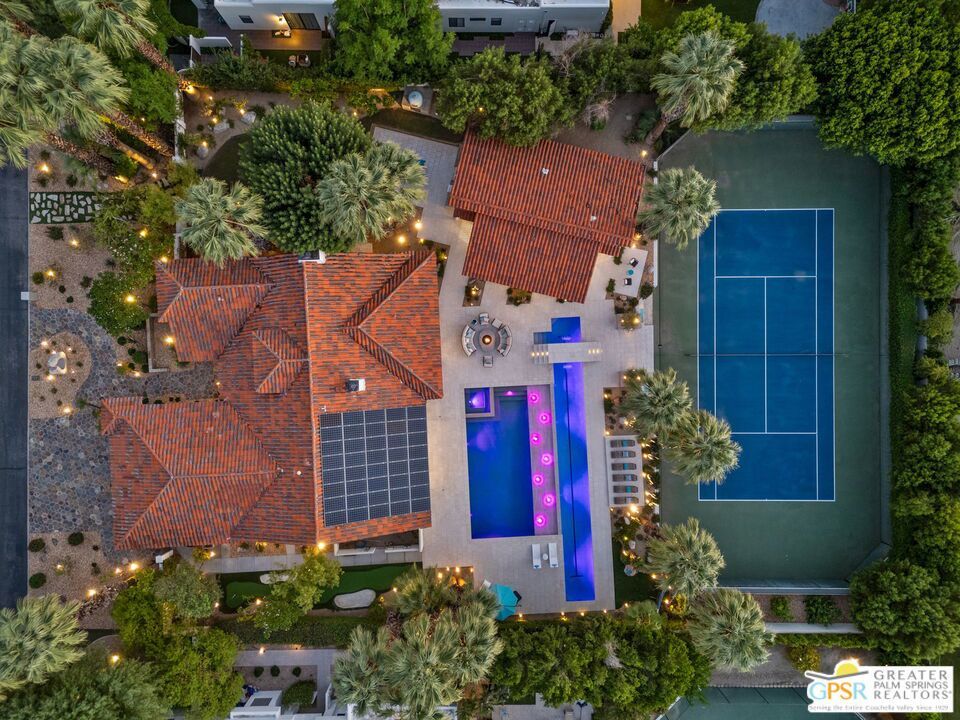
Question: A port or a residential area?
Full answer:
The picture captures a residential area.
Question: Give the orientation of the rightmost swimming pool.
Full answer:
The rightmost swimming pool is oriented up and down.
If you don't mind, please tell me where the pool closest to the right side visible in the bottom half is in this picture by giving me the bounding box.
[534,317,595,601]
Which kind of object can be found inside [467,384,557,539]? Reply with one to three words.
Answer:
swimming pool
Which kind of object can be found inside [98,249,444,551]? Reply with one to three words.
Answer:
house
